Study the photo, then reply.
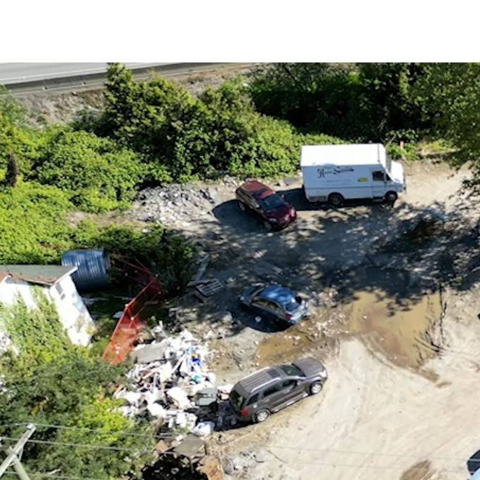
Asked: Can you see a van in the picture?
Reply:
Yes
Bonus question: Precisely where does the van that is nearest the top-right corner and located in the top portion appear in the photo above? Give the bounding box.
[292,141,405,206]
